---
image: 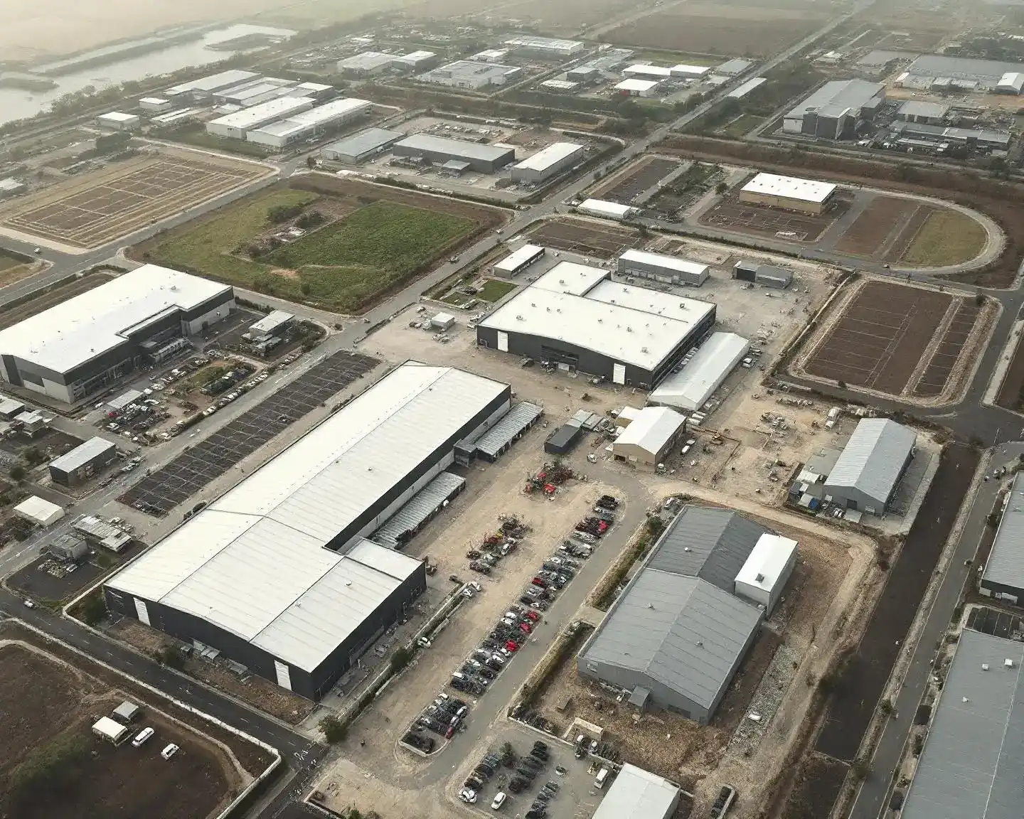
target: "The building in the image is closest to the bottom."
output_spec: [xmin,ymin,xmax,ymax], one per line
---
[587,762,681,819]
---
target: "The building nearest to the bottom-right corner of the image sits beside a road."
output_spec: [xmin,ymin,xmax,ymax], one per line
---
[896,627,1024,819]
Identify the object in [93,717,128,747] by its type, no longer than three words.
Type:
shed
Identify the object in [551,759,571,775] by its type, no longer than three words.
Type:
car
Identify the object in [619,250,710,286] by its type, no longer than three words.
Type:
building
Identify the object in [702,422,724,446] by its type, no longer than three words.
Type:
work vehicle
